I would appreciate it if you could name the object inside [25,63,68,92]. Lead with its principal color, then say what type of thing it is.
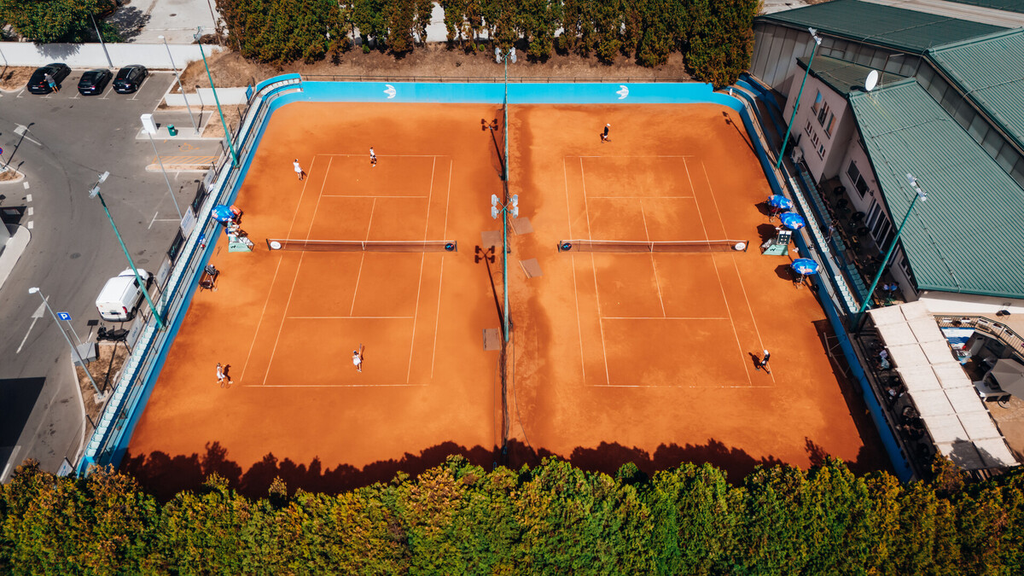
black car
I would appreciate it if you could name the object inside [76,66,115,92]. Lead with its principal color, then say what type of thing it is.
black car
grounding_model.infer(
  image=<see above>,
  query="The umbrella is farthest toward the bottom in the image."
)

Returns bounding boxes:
[992,355,1024,411]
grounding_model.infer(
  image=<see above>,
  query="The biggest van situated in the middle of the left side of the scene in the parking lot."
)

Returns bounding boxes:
[94,259,154,313]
